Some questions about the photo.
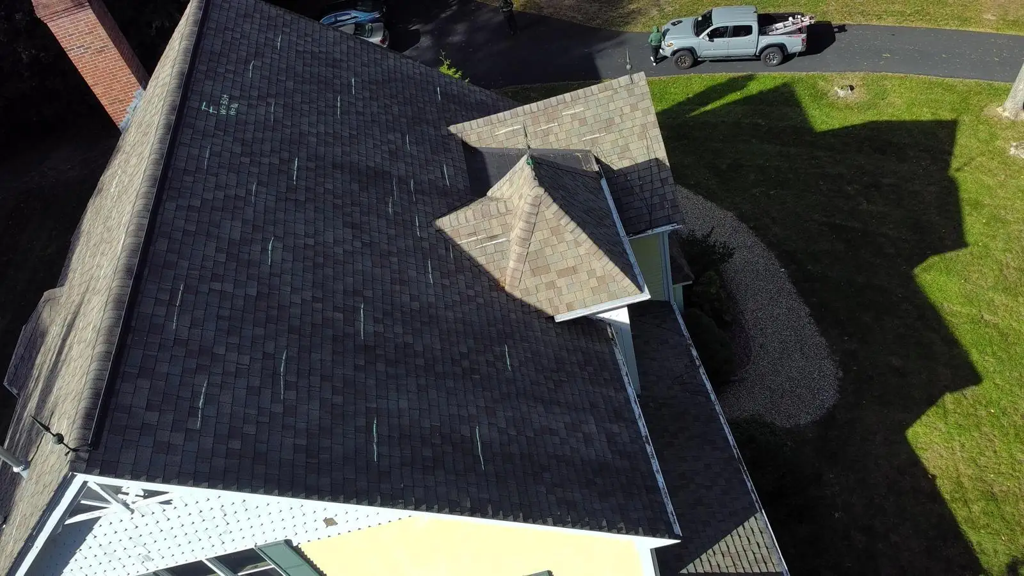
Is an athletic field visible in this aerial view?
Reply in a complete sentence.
No, the frame has no athletic field in it.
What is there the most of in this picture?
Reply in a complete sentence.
Most of the picture is covered by buildings.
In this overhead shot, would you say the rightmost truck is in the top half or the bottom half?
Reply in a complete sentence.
The rightmost truck sits in the top half of the picture.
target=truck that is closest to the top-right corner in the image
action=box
[659,2,810,69]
